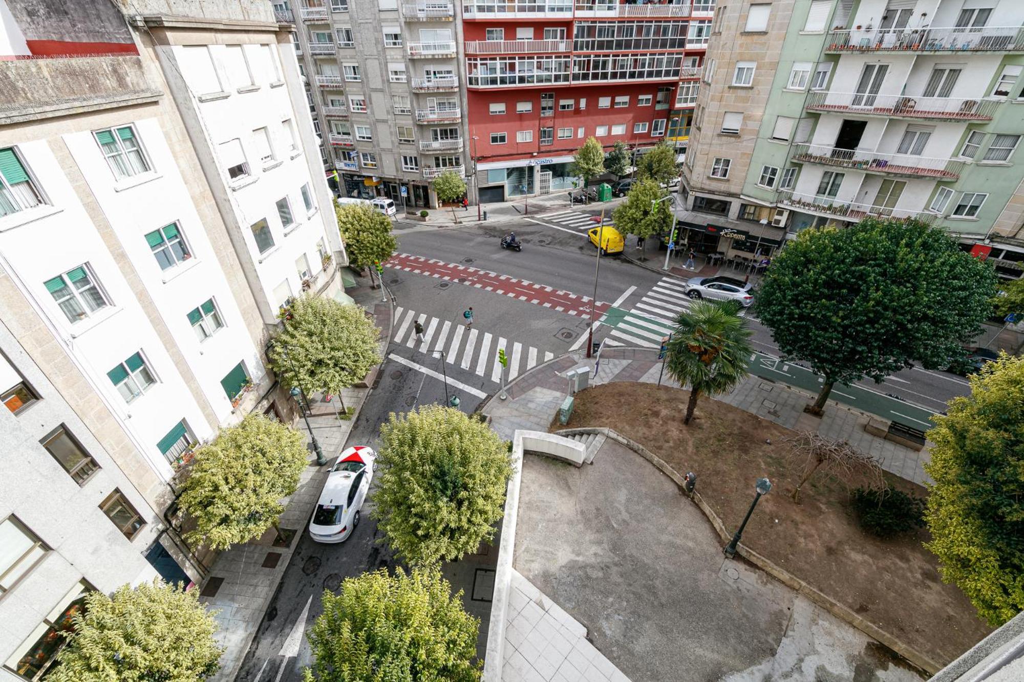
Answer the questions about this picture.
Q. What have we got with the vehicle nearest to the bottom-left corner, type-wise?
car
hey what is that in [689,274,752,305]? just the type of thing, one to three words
car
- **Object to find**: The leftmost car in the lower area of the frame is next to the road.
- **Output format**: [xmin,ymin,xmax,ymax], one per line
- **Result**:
[305,446,374,535]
